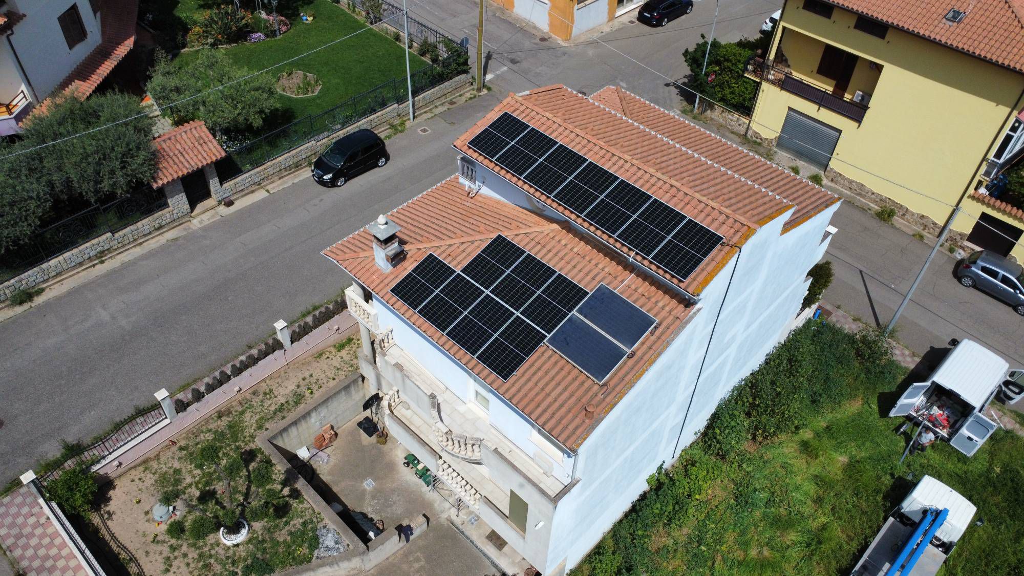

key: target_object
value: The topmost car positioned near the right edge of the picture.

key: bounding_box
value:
[958,246,1024,316]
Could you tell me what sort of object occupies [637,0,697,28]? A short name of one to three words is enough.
car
